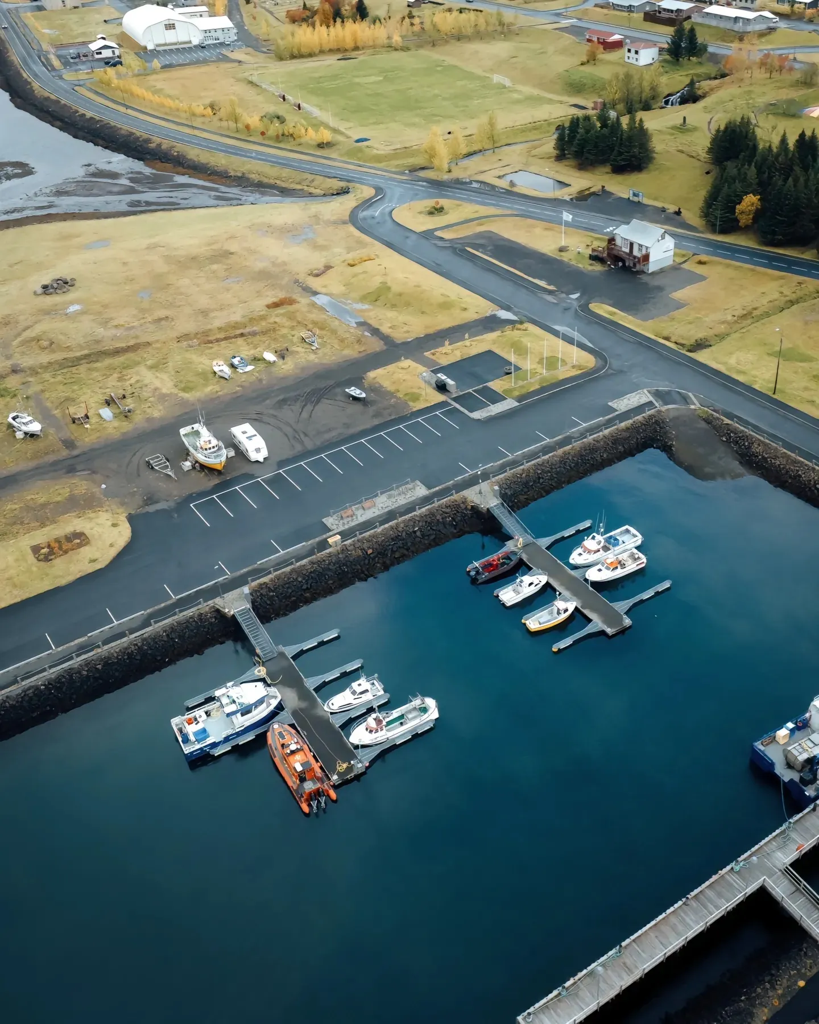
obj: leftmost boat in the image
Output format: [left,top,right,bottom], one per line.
[5,411,41,436]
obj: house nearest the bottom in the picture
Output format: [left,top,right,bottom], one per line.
[576,216,681,276]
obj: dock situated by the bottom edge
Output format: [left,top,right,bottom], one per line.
[516,795,819,1024]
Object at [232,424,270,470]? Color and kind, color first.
white camper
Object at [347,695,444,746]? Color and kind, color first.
white boat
